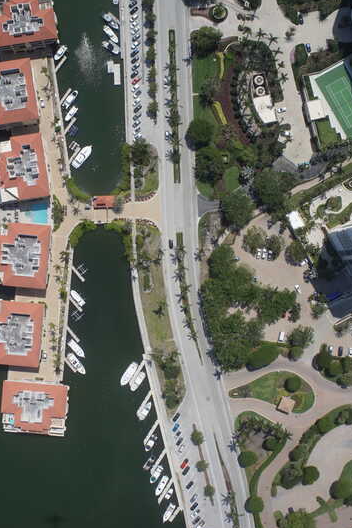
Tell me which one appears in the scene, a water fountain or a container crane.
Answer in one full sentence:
Of the two, only a water fountain appears.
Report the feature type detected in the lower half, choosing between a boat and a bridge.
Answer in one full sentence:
The one visible in the lower half is a boat.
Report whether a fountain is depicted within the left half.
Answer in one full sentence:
Yes, there is a fountain within the left half.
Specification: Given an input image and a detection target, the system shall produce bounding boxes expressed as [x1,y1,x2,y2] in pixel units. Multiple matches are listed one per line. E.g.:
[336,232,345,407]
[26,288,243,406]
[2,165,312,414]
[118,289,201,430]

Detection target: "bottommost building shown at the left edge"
[2,377,71,436]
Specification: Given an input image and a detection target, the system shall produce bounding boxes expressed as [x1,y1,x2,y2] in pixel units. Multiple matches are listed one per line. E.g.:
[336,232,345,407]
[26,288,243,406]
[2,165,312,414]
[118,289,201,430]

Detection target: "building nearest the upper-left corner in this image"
[0,0,61,55]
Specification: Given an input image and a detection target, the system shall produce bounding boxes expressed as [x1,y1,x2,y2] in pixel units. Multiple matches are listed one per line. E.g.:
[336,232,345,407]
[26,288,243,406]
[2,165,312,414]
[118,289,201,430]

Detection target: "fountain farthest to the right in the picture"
[75,31,110,91]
